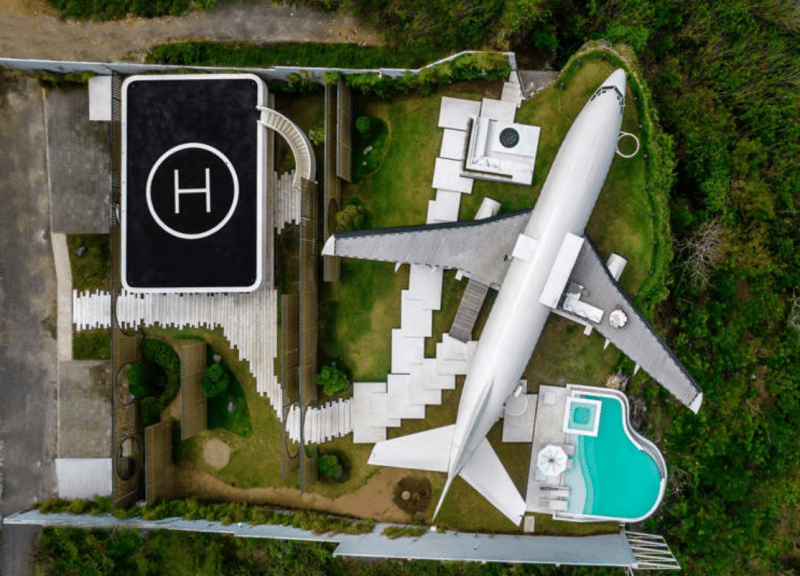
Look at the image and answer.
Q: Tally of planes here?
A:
1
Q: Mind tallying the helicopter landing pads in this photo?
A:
1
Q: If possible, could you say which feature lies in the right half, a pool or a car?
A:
pool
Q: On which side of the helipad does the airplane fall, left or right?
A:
to the right of it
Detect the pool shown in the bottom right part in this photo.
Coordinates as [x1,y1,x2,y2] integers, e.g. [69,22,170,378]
[555,383,669,523]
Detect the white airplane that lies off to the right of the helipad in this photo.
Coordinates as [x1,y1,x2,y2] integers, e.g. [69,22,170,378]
[323,70,702,526]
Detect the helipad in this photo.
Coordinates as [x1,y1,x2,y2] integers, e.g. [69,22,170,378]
[120,73,315,292]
